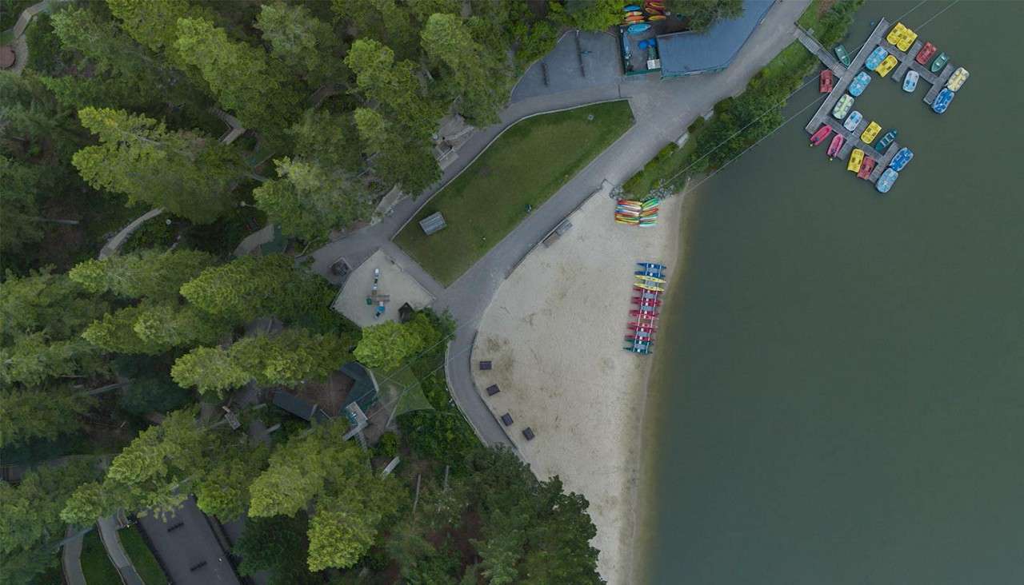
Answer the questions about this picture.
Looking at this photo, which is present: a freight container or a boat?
boat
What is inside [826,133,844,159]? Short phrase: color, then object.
pink boat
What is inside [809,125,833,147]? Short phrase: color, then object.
red boat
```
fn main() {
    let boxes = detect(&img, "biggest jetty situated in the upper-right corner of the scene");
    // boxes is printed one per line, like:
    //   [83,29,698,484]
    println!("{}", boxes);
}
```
[805,15,955,183]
